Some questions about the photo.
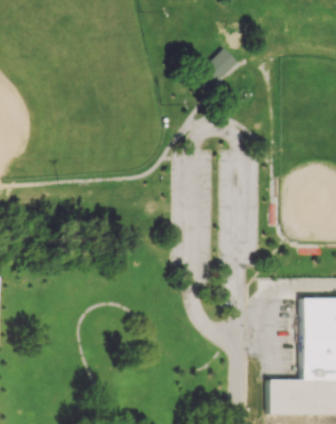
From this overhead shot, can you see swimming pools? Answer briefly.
No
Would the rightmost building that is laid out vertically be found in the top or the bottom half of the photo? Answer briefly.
bottom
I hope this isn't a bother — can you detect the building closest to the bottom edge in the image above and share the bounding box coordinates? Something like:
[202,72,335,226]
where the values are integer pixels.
[264,379,336,416]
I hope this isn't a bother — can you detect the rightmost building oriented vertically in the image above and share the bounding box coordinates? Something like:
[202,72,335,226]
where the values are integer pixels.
[296,298,336,382]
